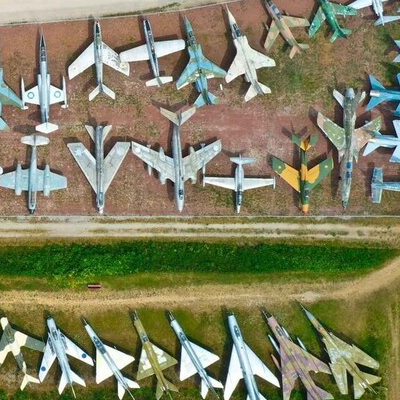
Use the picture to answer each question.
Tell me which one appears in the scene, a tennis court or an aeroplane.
aeroplane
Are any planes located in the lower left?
Yes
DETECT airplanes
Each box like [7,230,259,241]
[365,122,400,165]
[225,312,280,400]
[316,86,379,209]
[225,6,276,100]
[0,135,66,214]
[81,319,139,399]
[69,125,130,215]
[301,306,382,398]
[310,0,358,42]
[367,75,400,117]
[264,0,310,58]
[177,16,226,107]
[275,135,334,214]
[22,33,68,133]
[348,0,395,26]
[0,316,45,390]
[120,18,182,86]
[135,108,225,212]
[372,169,400,204]
[167,314,224,398]
[69,21,130,100]
[203,155,275,213]
[267,311,334,400]
[131,313,177,400]
[38,316,93,394]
